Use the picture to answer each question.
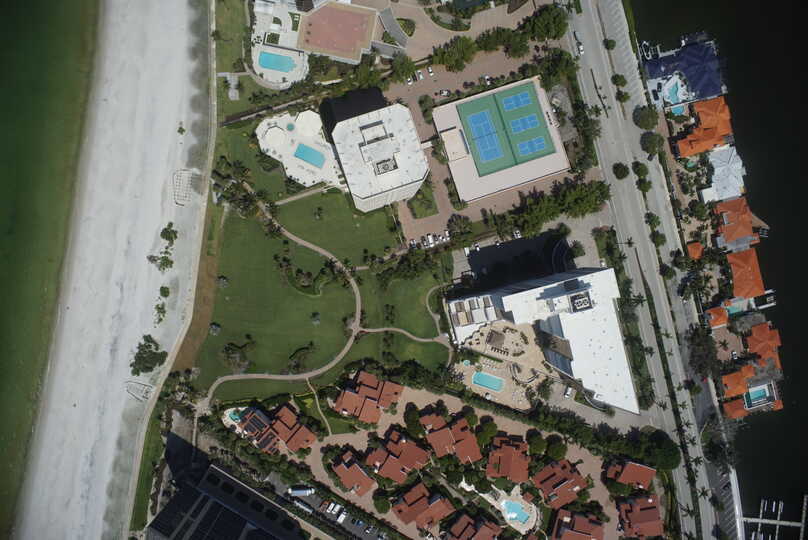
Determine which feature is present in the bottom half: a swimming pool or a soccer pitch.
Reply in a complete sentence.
It is a swimming pool that can be seen in the bottom half.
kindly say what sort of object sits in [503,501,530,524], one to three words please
swimming pool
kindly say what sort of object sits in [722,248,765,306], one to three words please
house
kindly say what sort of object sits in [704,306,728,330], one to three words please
building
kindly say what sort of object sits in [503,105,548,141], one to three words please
sports court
